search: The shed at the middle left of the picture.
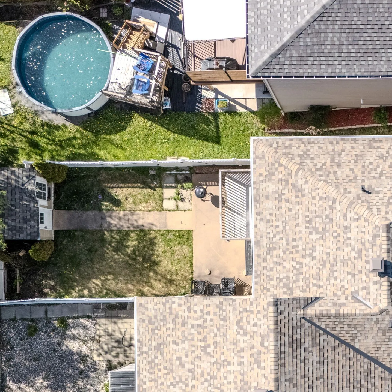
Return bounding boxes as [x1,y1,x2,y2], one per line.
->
[0,169,54,239]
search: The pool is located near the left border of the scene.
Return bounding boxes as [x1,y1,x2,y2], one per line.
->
[11,10,120,118]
